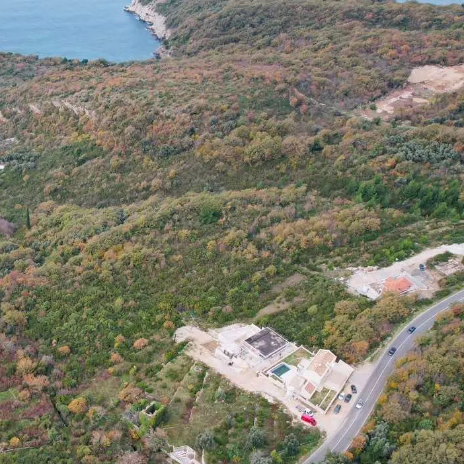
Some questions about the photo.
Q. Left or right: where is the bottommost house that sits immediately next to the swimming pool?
right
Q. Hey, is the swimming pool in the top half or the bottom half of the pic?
bottom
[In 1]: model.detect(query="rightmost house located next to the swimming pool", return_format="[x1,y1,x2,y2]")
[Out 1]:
[285,349,355,407]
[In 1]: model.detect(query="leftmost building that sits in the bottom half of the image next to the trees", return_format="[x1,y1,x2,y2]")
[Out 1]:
[137,400,166,426]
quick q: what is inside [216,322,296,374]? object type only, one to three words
house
